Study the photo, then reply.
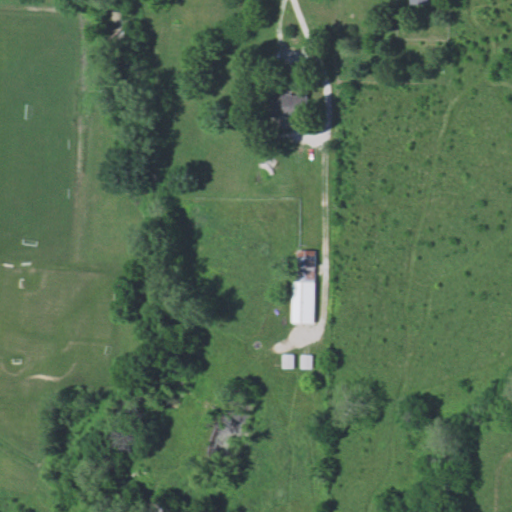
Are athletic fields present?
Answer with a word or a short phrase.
Yes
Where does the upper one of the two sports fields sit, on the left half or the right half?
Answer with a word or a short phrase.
left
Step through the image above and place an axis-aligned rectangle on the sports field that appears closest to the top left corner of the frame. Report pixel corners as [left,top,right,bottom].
[0,7,81,262]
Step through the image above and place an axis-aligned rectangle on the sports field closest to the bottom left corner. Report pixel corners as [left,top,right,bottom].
[0,272,112,392]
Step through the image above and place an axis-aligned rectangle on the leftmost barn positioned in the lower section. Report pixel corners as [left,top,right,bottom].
[212,418,244,452]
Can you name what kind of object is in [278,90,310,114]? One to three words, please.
house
